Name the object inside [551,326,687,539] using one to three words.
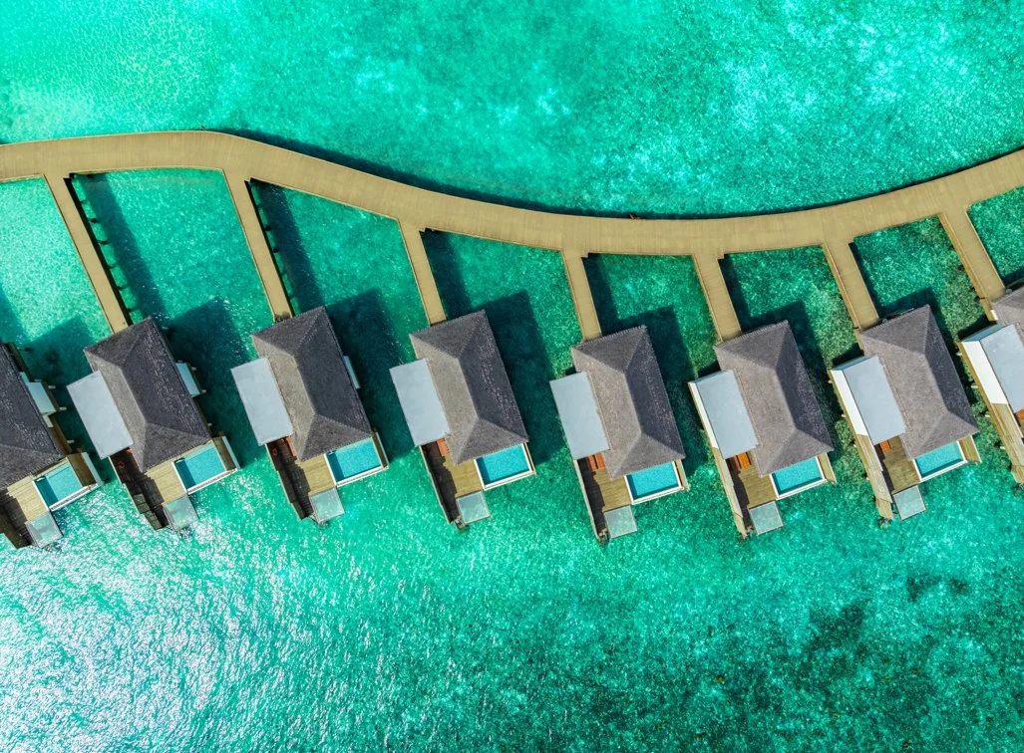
house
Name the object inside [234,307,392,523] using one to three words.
house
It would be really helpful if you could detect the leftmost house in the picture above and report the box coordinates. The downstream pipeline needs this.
[0,334,108,550]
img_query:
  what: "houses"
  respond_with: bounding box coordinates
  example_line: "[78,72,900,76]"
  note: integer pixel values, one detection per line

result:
[689,321,834,536]
[551,326,687,539]
[67,316,246,532]
[954,275,1024,477]
[392,310,538,526]
[826,305,982,522]
[0,334,108,550]
[234,307,392,523]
